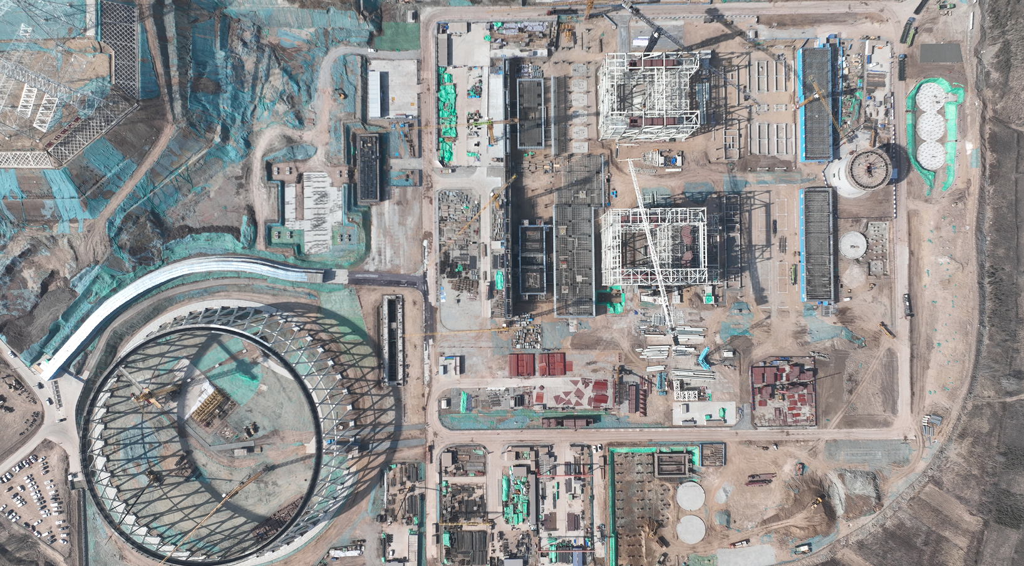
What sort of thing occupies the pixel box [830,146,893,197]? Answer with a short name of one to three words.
chimney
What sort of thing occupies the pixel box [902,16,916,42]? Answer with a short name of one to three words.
vehicle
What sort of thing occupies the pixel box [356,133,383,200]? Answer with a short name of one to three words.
building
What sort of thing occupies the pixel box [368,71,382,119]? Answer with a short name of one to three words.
building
